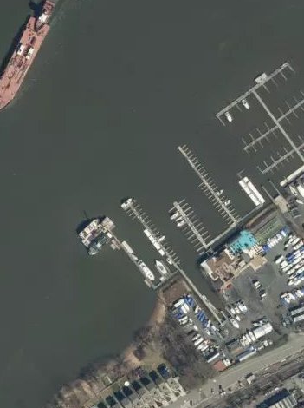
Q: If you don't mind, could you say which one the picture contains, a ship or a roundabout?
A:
ship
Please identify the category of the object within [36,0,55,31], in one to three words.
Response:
boat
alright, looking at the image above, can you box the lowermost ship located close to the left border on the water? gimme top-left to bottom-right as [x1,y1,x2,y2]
[0,17,50,109]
